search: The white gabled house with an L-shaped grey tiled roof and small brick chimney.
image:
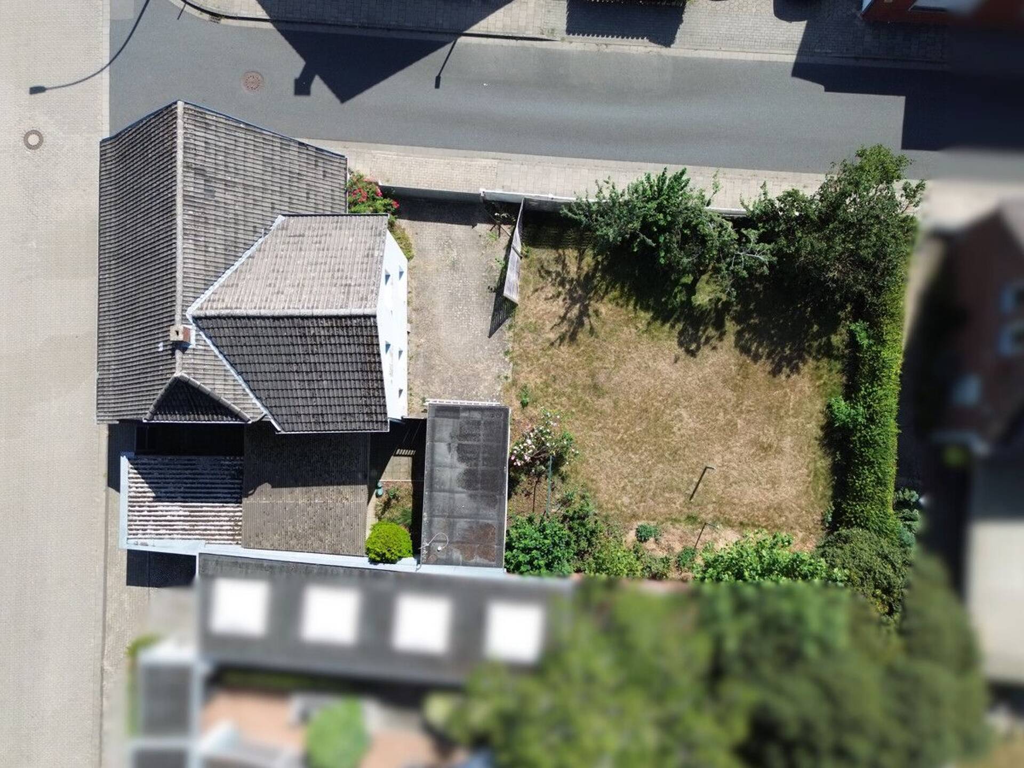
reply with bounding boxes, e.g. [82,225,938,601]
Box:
[94,99,408,434]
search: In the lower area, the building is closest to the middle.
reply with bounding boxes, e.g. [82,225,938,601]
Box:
[421,396,510,568]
